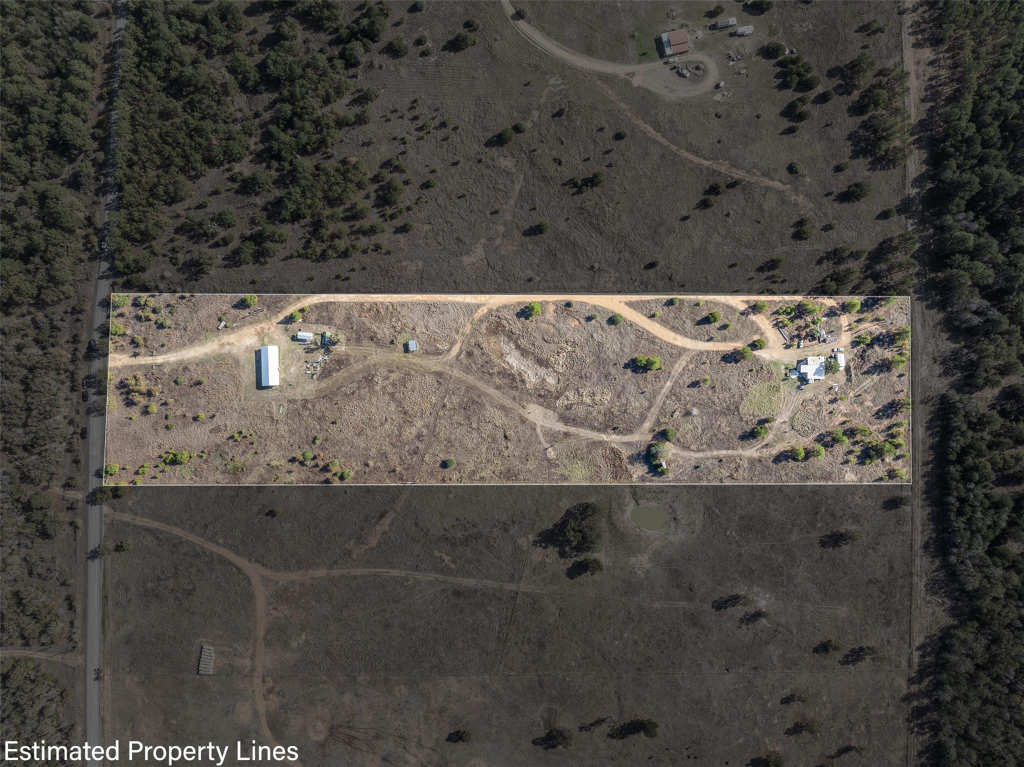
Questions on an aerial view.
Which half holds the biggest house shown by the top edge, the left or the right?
right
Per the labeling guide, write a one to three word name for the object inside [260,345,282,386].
barn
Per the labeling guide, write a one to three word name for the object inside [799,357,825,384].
house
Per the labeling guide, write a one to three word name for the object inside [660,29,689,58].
house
